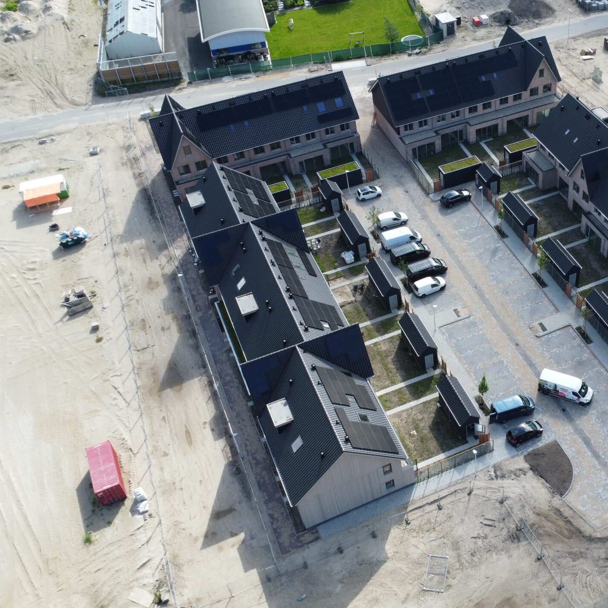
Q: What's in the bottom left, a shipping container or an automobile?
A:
shipping container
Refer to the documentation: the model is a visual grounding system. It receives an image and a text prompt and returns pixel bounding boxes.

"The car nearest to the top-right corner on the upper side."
[440,188,472,207]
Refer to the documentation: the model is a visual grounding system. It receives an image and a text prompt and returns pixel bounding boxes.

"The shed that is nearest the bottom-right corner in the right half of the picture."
[435,375,481,438]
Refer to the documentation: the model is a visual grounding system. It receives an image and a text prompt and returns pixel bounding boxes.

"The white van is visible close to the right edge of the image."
[542,369,594,405]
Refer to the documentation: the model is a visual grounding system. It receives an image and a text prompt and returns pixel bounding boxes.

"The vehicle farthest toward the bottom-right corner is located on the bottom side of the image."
[506,421,544,447]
